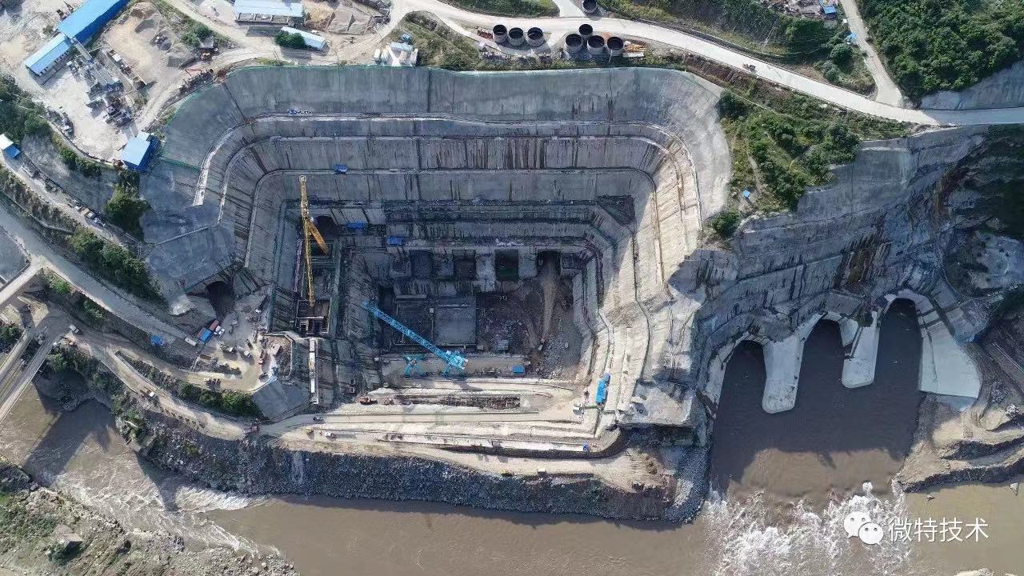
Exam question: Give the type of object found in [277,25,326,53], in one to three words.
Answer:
shed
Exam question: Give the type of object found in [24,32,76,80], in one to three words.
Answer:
shed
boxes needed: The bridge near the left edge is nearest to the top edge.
[0,262,47,312]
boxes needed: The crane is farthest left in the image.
[301,175,328,306]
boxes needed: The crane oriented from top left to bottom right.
[363,302,468,380]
